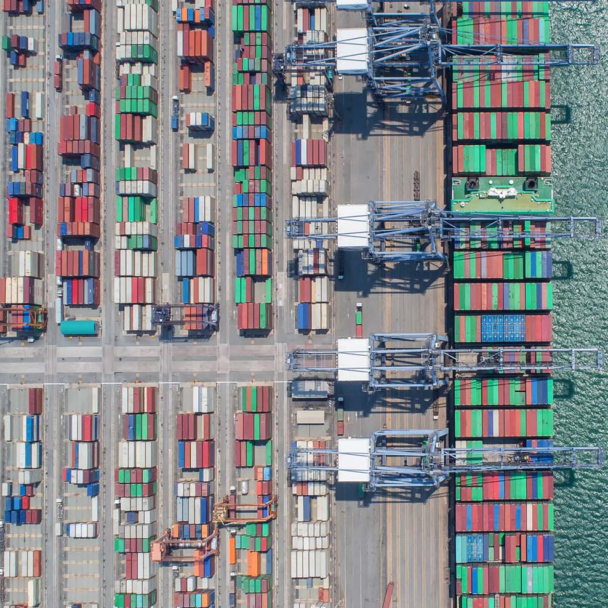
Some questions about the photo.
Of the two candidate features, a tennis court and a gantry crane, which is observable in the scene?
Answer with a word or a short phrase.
gantry crane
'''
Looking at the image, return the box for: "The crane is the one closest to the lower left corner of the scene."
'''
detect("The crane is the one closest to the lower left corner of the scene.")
[148,527,217,562]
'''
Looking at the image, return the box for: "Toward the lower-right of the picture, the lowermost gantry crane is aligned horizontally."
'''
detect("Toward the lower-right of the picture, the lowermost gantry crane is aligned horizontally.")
[280,421,603,491]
